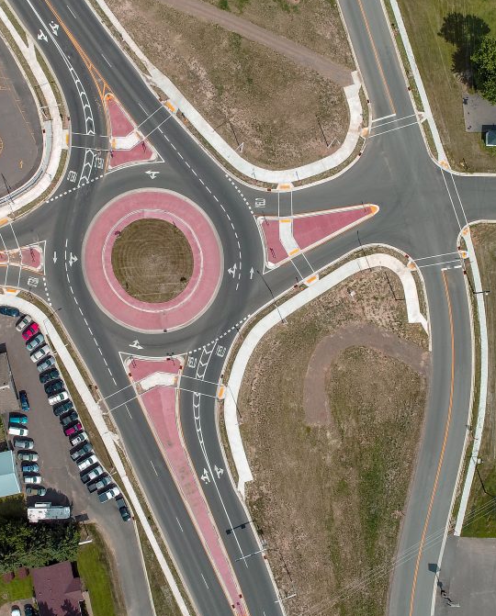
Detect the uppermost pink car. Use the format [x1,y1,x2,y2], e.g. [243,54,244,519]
[21,322,40,340]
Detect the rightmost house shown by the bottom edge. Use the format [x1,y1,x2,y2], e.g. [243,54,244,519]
[32,560,86,616]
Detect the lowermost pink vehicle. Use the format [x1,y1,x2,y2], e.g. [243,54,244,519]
[62,422,85,436]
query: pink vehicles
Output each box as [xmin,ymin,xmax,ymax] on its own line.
[21,322,40,340]
[62,422,85,436]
